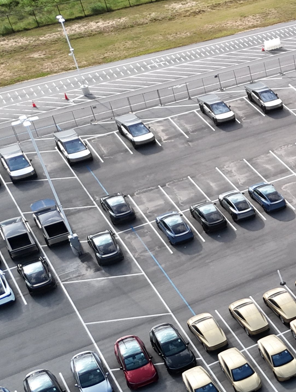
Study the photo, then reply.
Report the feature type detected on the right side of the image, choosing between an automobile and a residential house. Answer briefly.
automobile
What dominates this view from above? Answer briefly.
paved ground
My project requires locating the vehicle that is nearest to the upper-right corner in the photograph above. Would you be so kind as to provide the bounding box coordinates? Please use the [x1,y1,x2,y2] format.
[243,81,283,112]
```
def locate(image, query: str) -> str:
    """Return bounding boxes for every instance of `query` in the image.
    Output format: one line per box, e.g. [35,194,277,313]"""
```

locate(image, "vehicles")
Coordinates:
[187,312,229,352]
[28,195,71,242]
[15,256,56,295]
[194,93,234,125]
[113,112,153,147]
[217,189,255,220]
[0,143,36,180]
[227,298,269,337]
[99,192,136,224]
[255,336,296,381]
[148,323,194,374]
[261,287,296,324]
[154,211,193,244]
[0,216,39,259]
[215,348,263,392]
[23,368,66,392]
[243,81,283,112]
[0,269,15,306]
[67,351,115,392]
[179,367,221,392]
[53,126,93,163]
[247,181,286,212]
[110,336,158,389]
[188,200,226,232]
[85,229,124,265]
